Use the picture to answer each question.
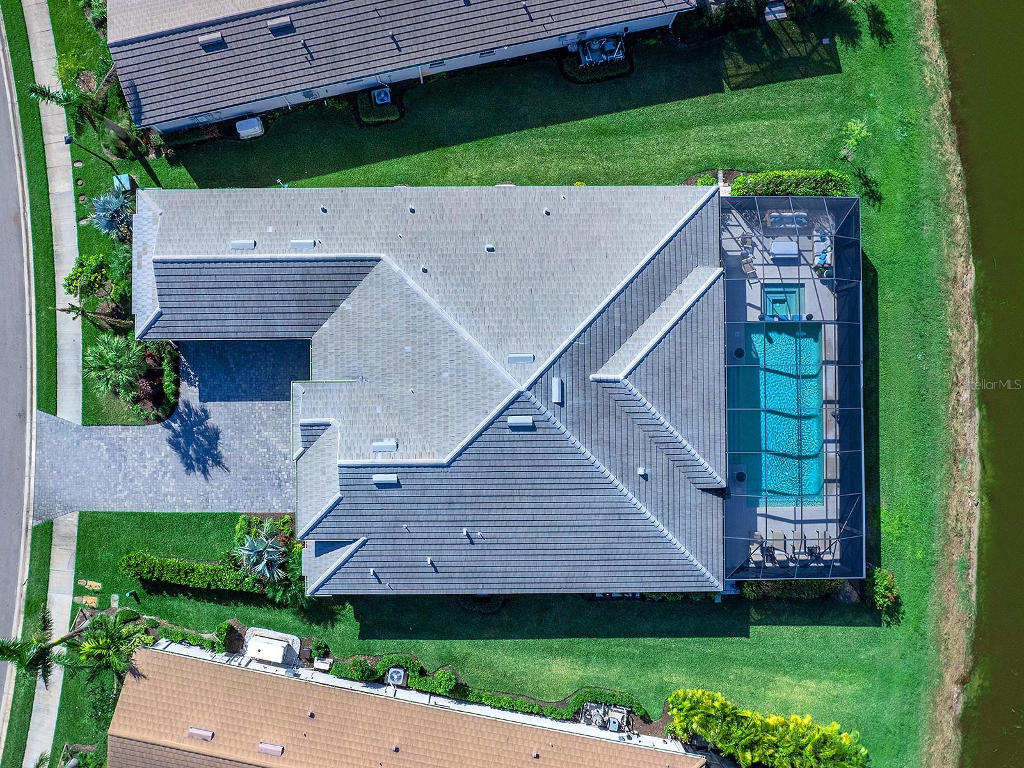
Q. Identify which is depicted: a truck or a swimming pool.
swimming pool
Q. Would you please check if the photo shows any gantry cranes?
No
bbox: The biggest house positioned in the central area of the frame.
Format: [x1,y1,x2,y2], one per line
[134,184,728,597]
